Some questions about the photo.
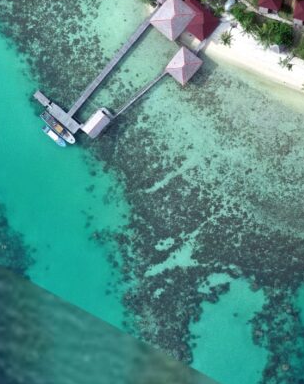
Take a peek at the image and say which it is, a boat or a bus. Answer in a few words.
boat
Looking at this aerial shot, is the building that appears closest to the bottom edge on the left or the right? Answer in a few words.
left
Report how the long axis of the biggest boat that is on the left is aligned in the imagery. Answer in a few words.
on a diagonal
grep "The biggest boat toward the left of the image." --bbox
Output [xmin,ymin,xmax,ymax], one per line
[40,110,75,143]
